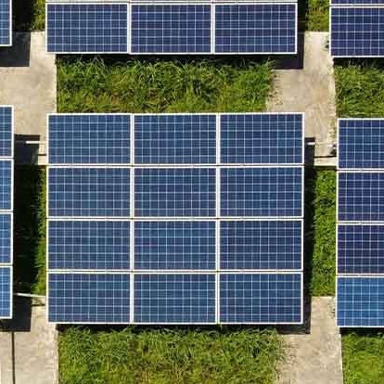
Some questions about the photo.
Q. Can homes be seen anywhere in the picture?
No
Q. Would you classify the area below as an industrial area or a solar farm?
solar farm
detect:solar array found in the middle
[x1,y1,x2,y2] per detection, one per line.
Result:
[46,113,304,324]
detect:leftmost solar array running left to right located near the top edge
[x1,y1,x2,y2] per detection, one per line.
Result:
[46,0,297,54]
